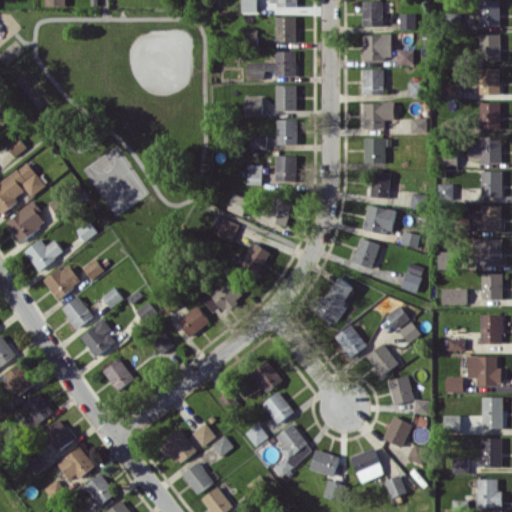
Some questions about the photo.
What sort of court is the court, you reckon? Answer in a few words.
basketball court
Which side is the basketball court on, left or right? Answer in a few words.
left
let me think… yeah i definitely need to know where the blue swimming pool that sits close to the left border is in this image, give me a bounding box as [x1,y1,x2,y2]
[25,486,39,500]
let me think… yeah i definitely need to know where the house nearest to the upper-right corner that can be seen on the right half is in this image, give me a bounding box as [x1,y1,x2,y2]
[482,3,501,27]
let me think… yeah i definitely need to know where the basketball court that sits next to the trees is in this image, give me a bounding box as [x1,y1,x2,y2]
[84,149,149,216]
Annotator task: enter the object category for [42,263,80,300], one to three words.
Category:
house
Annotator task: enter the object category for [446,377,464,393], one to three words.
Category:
building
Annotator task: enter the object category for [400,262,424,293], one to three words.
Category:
building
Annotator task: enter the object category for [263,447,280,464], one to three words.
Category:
swimming pool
